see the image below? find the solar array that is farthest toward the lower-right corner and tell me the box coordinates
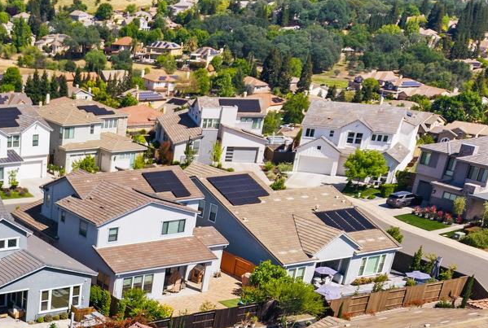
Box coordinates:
[321,204,376,231]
